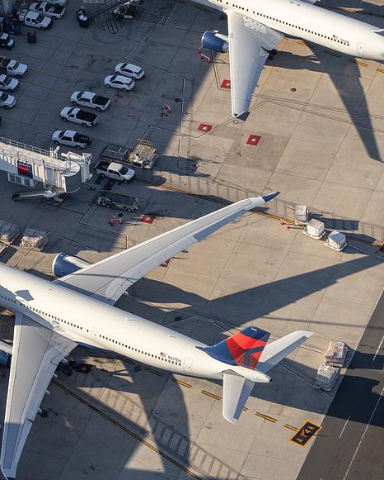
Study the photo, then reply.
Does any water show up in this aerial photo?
No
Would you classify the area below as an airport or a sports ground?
airport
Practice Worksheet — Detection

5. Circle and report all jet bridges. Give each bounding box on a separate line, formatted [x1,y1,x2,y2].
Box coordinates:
[83,0,152,28]
[0,136,102,215]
